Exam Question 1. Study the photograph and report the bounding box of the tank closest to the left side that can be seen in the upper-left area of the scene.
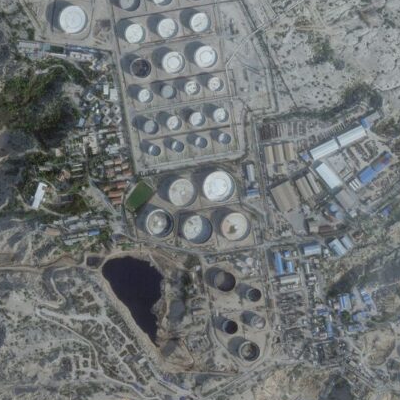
[57,4,88,35]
